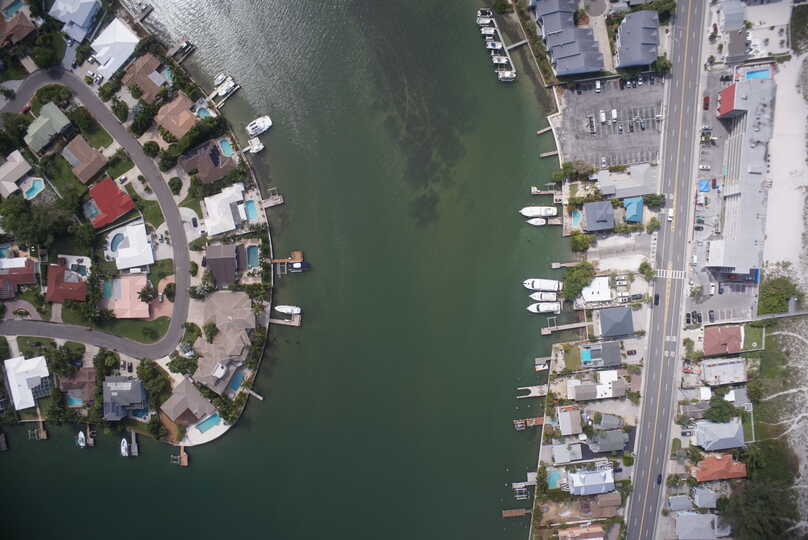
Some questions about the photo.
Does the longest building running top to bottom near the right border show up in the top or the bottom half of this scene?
top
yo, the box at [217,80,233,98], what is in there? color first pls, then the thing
white boat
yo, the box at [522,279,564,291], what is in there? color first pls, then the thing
white boat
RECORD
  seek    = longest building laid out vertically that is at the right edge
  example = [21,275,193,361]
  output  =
[701,80,779,283]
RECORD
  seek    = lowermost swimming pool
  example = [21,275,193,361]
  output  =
[548,470,562,490]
